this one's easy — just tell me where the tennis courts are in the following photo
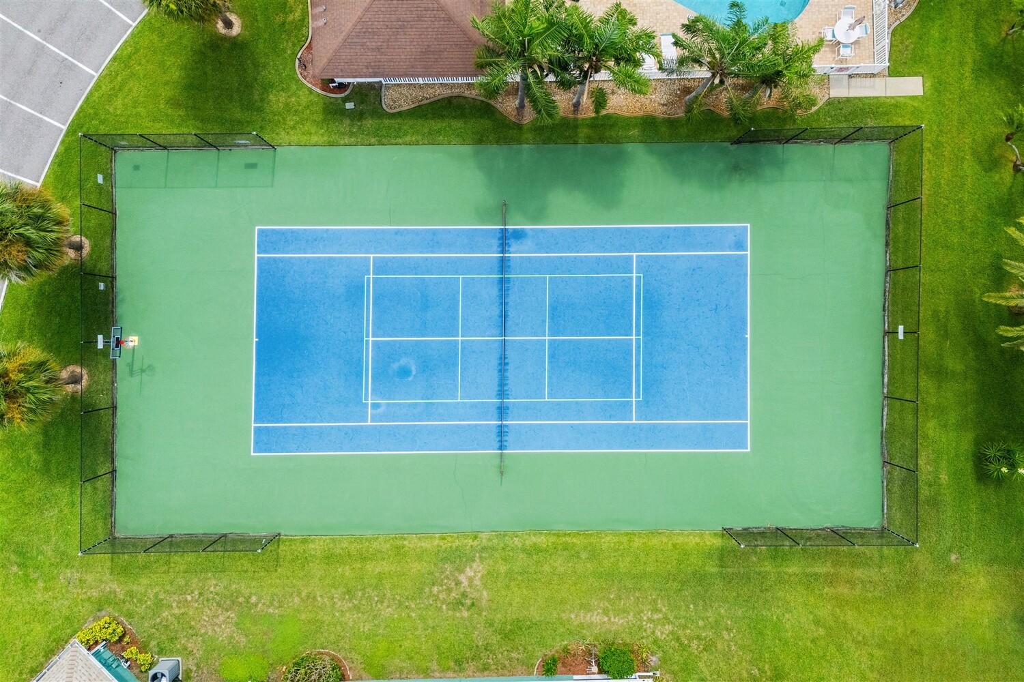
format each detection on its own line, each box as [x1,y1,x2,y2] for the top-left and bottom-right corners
[111,140,893,539]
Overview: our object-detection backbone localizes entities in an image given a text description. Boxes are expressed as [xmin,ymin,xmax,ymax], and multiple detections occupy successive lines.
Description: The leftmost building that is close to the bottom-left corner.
[33,641,116,682]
